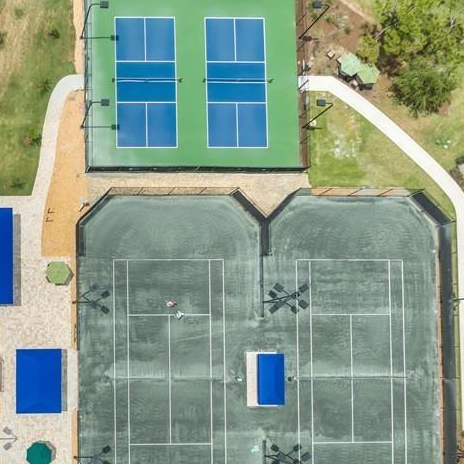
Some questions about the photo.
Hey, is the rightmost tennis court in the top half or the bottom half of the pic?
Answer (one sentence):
The bottom half of the photo is where the rightmost tennis court is.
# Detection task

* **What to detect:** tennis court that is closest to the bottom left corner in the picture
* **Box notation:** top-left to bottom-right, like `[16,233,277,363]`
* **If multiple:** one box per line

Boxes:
[78,195,263,464]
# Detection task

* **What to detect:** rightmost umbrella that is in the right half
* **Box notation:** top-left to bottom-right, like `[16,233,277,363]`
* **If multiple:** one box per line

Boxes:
[354,62,380,86]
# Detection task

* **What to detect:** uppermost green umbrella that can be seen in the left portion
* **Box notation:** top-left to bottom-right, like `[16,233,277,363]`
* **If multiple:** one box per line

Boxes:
[45,260,71,285]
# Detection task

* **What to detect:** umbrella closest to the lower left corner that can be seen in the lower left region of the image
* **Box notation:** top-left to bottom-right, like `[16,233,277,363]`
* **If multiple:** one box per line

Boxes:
[27,441,52,464]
